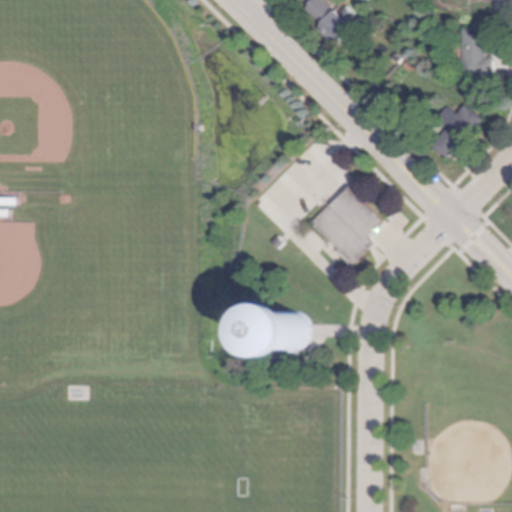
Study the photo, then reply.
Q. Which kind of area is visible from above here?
sports ground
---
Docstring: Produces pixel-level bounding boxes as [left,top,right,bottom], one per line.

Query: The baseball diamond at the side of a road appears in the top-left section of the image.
[0,0,195,212]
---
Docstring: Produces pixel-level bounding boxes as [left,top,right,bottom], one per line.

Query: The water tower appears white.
[216,302,312,360]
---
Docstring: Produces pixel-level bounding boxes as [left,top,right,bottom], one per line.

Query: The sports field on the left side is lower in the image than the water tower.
[0,378,338,512]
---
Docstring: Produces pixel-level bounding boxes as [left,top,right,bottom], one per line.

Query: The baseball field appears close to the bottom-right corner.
[428,402,512,502]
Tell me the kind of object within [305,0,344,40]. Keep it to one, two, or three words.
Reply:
house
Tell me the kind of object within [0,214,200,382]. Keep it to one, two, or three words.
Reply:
baseball field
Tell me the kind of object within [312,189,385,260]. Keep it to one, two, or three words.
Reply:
building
